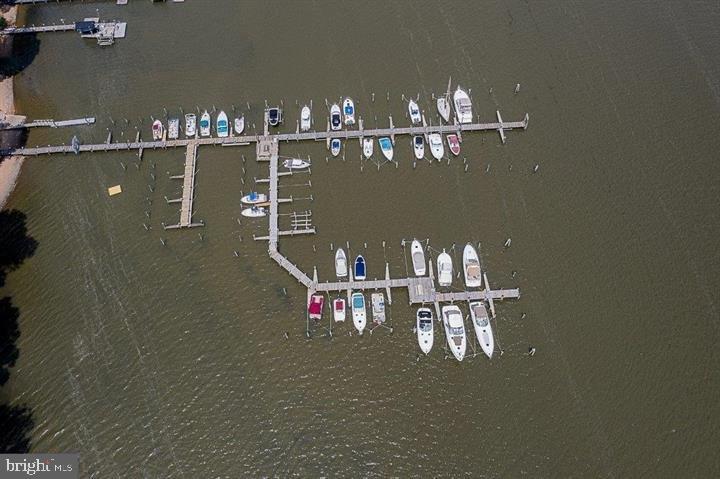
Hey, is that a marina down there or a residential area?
marina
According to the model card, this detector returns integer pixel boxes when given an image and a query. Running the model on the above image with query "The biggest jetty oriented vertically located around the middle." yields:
[252,140,316,290]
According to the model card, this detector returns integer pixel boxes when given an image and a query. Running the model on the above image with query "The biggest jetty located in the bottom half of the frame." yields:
[306,242,520,353]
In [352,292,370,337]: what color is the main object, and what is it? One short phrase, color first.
white boat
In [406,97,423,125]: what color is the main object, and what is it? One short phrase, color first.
white boat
